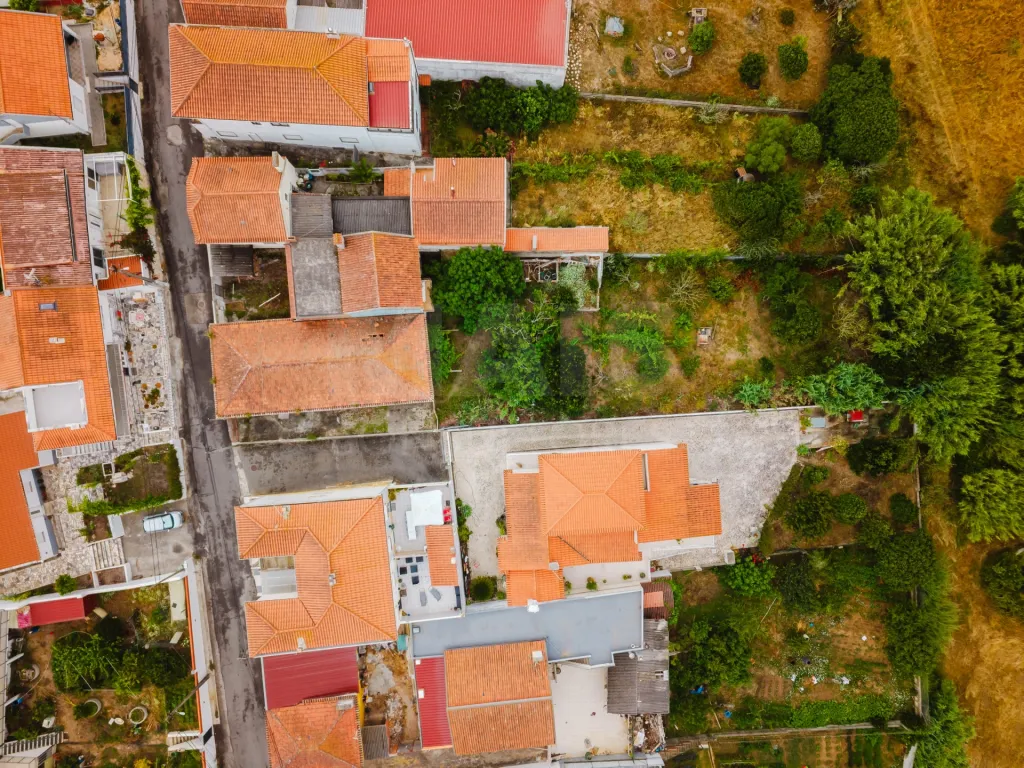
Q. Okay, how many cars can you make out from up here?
1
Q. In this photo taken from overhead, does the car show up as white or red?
white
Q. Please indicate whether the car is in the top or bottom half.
bottom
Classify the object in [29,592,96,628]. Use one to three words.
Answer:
shed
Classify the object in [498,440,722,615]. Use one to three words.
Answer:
house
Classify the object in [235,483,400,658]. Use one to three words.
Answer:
house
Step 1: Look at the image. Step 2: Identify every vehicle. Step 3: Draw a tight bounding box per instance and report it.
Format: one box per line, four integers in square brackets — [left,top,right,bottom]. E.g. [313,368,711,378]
[142,510,187,532]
